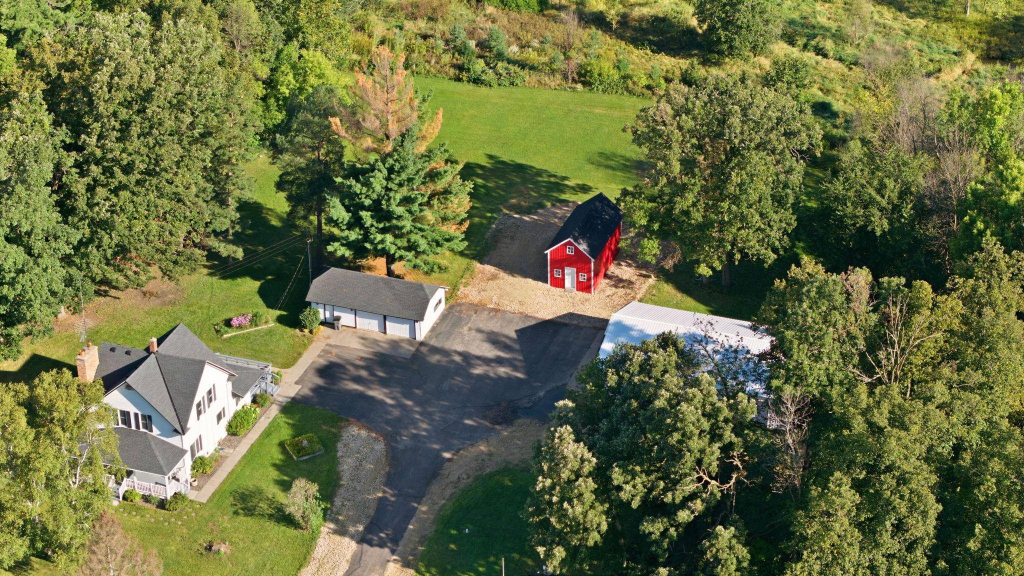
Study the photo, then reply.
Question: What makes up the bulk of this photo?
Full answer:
The scene is dominated by trees.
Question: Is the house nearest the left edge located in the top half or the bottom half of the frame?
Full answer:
Seen from above, the house nearest the left edge lies in the bottom half of the view.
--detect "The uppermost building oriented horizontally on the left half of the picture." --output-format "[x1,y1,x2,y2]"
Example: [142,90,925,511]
[307,264,450,340]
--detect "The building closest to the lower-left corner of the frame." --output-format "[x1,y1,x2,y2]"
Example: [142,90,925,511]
[75,321,286,501]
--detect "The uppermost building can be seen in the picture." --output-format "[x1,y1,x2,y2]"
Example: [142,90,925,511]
[545,193,625,295]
